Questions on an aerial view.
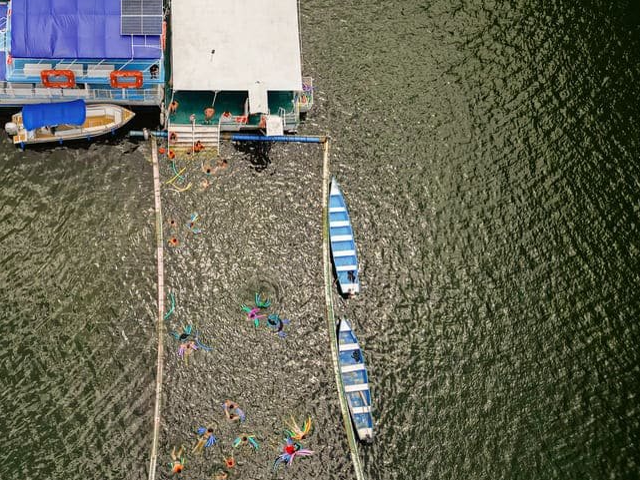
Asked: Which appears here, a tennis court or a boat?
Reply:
boat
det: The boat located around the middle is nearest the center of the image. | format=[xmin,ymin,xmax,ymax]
[330,176,359,299]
